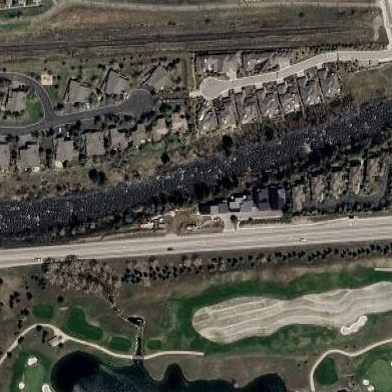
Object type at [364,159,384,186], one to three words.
house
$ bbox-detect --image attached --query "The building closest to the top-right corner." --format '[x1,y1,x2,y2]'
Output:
[319,71,342,96]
